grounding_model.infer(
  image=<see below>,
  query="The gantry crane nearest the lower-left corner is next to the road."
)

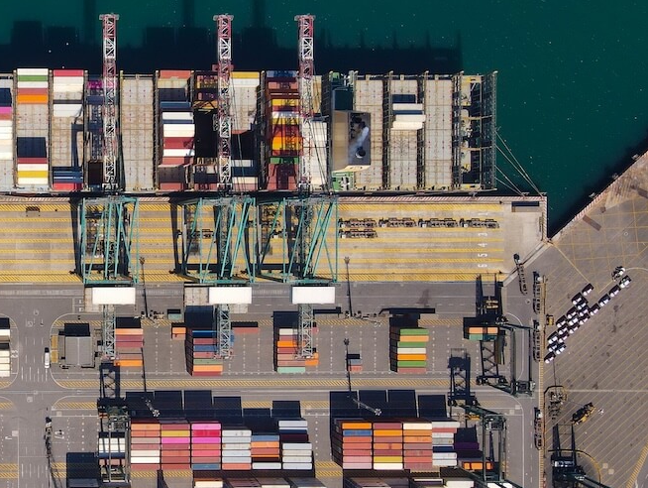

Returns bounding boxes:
[101,400,134,483]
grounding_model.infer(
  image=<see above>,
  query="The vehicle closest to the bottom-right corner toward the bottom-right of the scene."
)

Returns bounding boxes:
[574,401,602,422]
